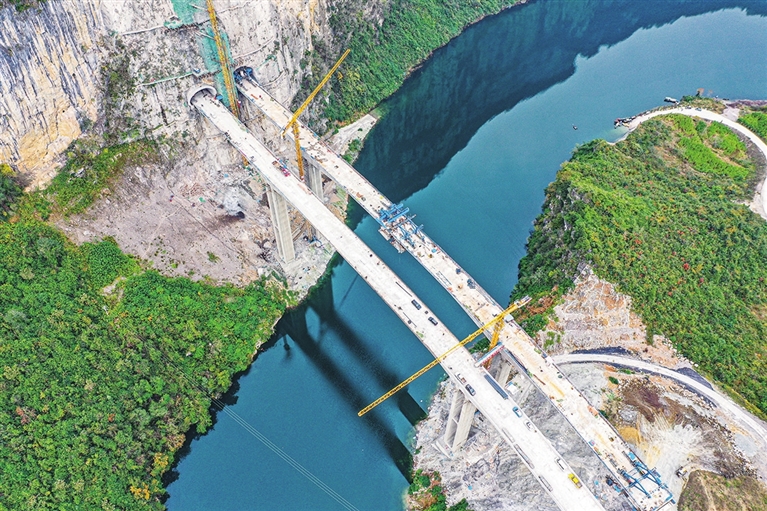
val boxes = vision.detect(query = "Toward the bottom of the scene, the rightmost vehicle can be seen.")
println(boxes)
[672,460,693,476]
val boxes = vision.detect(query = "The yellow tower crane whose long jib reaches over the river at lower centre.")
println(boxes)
[358,290,527,416]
